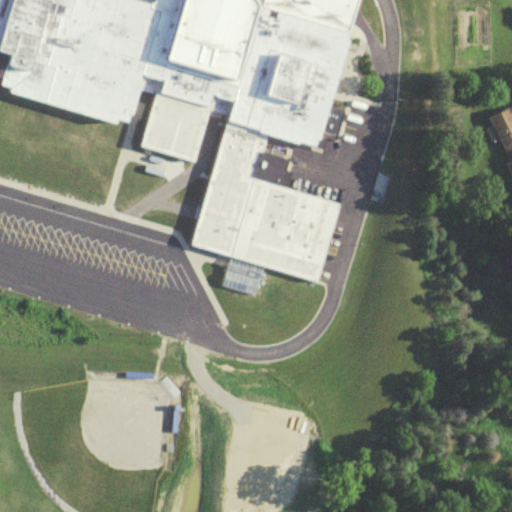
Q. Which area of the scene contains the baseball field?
bottom left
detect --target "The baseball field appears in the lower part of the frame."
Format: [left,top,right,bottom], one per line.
[14,370,177,512]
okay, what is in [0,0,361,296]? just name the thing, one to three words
building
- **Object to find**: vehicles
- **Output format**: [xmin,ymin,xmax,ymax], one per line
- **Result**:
[296,178,304,190]
[262,160,268,170]
[332,188,340,201]
[346,114,364,124]
[304,180,311,192]
[324,186,332,199]
[343,134,358,143]
[338,190,346,202]
[316,184,324,196]
[351,101,370,110]
[292,178,298,190]
[310,182,318,194]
